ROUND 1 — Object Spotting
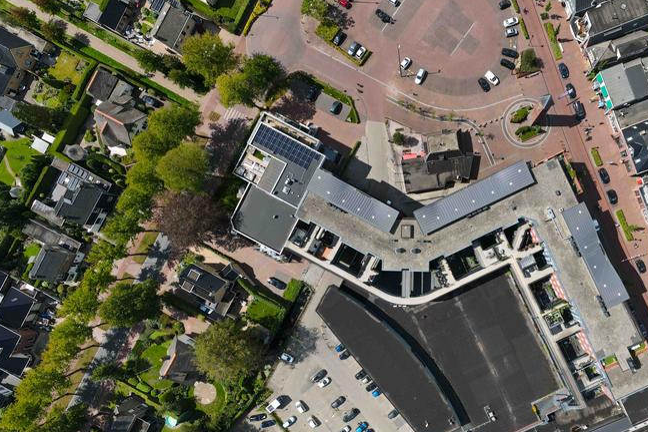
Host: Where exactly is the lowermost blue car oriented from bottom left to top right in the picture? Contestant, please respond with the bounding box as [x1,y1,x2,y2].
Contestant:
[354,418,370,432]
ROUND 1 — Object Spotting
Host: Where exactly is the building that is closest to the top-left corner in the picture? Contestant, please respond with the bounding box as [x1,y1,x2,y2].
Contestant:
[0,26,39,67]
